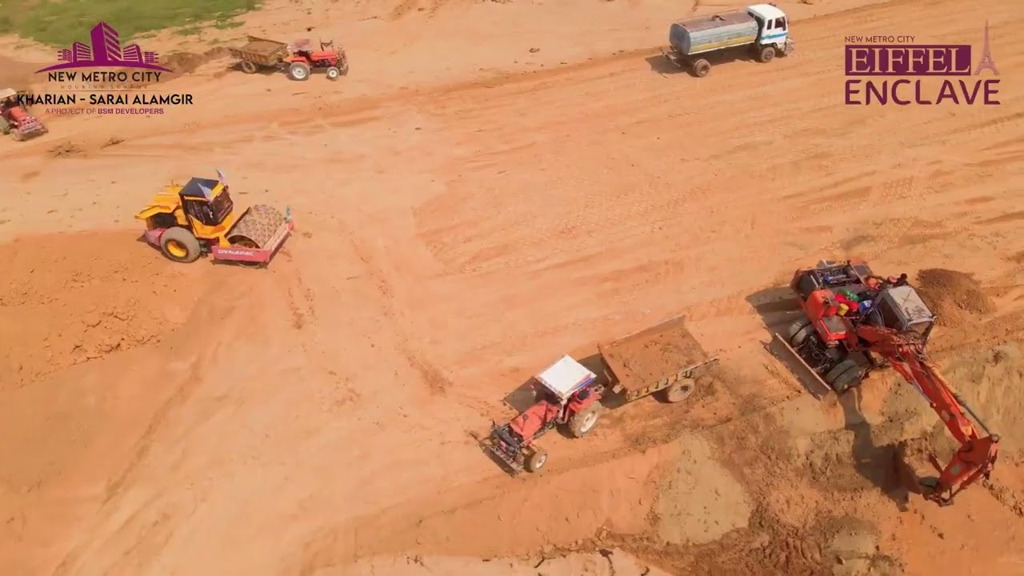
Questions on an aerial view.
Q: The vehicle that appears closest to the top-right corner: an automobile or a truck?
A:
truck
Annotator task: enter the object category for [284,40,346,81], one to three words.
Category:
work vehicle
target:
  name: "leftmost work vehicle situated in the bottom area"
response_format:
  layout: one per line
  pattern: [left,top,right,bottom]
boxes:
[473,352,600,483]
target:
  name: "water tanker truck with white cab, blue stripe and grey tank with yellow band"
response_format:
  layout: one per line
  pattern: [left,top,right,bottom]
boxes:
[663,6,796,81]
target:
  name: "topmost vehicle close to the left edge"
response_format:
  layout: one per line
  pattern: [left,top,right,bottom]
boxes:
[0,82,46,144]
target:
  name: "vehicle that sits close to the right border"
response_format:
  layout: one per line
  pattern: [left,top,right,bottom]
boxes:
[768,259,1001,507]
